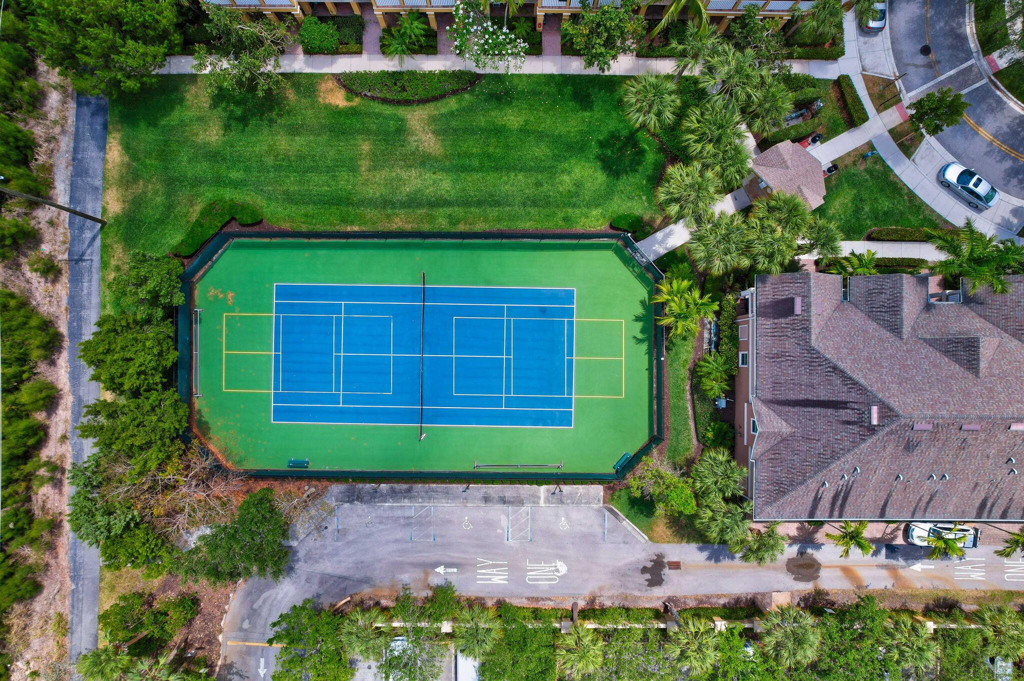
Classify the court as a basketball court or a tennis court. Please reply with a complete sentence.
The court in the image is a tennis court.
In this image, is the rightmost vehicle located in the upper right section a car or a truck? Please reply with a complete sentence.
I'd say the rightmost vehicle located in the upper right section is a car.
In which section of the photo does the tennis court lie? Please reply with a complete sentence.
The tennis court is in the center part of the image.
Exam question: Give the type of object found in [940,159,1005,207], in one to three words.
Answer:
car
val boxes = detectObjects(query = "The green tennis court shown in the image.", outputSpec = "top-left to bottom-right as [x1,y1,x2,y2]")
[195,241,652,471]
